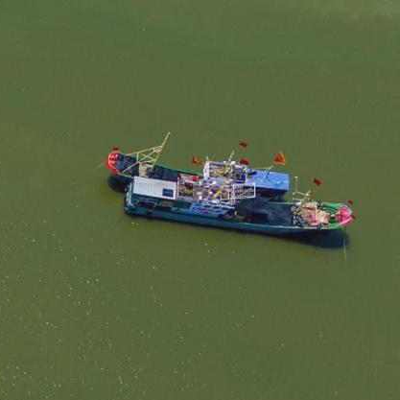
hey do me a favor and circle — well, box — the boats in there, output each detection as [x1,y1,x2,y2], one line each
[126,169,354,257]
[73,131,291,199]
